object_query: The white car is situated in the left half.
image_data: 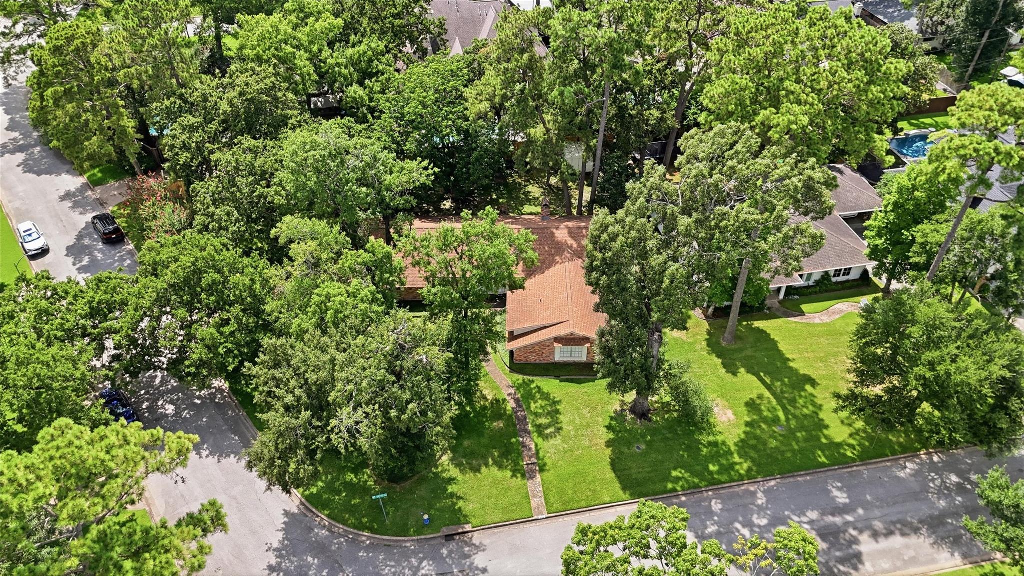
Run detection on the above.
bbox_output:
[16,220,49,257]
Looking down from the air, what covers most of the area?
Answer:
trees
